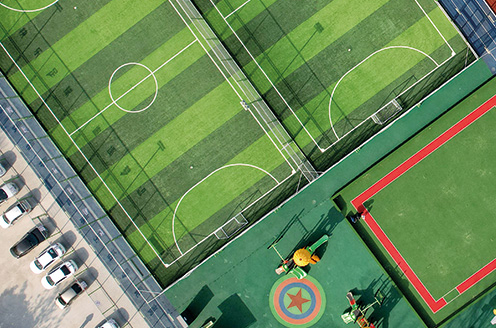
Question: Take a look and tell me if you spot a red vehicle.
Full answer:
No, no red vehicle can be seen from above.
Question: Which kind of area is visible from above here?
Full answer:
The area seen from above is a sports ground.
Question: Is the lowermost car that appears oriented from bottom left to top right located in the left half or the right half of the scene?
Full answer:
It is on the left.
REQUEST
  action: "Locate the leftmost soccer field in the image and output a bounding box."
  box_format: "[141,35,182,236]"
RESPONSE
[0,0,316,288]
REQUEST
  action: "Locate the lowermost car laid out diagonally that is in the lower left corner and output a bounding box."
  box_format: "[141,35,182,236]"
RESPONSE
[55,278,92,309]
